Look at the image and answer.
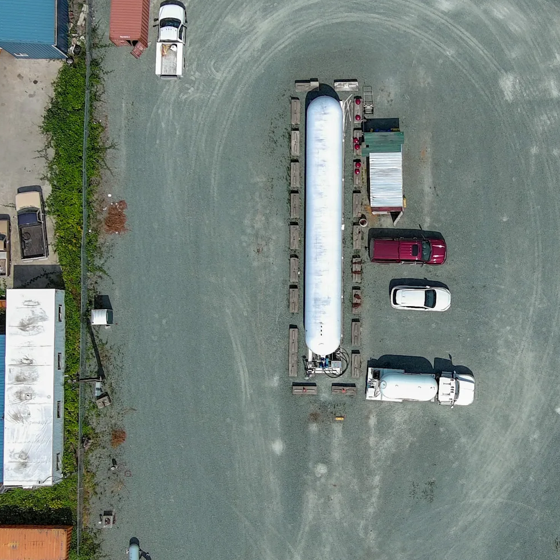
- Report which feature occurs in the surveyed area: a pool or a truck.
truck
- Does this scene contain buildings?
Yes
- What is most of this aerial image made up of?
paved ground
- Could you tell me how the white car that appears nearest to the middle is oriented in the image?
from side to side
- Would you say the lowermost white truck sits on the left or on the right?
right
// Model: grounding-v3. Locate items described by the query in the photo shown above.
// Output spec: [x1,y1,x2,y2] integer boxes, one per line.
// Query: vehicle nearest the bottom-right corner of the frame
[364,369,478,410]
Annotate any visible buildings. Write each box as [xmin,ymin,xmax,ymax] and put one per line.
[3,288,63,489]
[362,131,403,217]
[0,0,69,58]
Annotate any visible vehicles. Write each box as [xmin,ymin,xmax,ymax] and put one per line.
[364,227,446,267]
[150,4,189,83]
[391,283,452,314]
[12,187,49,262]
[0,215,11,278]
[364,369,478,410]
